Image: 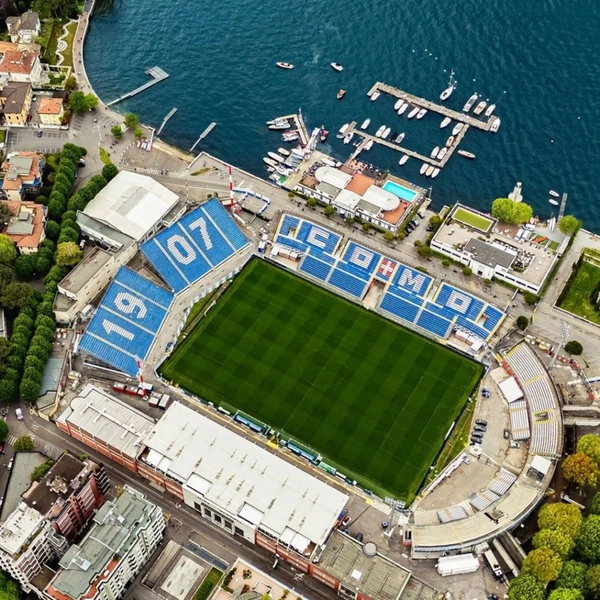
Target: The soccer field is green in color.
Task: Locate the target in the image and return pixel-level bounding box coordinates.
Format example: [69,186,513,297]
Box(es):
[156,255,487,506]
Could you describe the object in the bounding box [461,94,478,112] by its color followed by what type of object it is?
white boat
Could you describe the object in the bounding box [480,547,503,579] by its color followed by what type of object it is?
white truck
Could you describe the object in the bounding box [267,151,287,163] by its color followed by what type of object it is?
white boat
